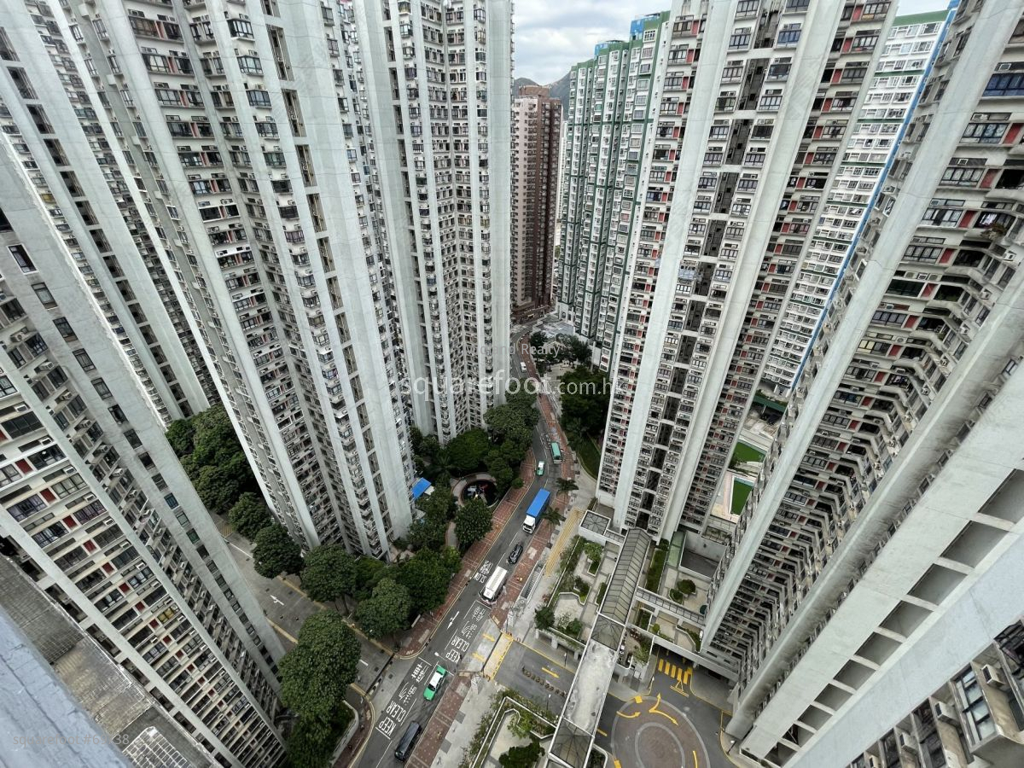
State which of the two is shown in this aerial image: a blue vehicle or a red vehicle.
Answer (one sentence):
This aerial view contains a blue vehicle.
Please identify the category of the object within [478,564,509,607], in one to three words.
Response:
bus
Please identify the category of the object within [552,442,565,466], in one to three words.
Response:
vehicle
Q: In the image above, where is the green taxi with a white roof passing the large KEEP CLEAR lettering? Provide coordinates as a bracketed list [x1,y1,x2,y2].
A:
[424,665,448,700]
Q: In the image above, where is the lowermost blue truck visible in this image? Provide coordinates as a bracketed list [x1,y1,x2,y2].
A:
[525,485,552,528]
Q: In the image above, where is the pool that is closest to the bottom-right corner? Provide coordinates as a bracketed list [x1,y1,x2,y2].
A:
[709,465,758,526]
